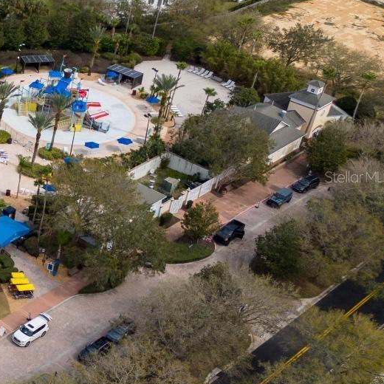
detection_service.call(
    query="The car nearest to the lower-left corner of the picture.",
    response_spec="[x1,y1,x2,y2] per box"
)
[10,306,58,348]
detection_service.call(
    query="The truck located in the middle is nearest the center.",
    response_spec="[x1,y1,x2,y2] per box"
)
[214,214,251,243]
